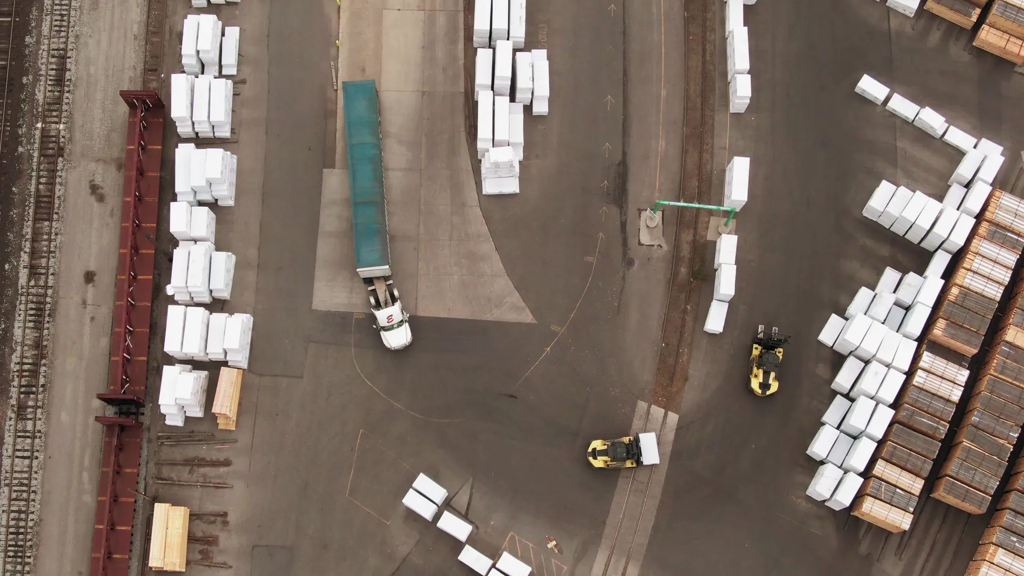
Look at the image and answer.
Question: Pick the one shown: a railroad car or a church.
railroad car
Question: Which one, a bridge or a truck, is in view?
truck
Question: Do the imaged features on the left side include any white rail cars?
No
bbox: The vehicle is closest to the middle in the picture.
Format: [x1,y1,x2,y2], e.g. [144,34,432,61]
[360,276,412,355]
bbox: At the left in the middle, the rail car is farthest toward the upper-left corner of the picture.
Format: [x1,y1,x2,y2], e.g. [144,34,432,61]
[96,95,165,417]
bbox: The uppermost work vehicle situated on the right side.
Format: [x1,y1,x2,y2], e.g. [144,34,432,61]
[750,327,790,399]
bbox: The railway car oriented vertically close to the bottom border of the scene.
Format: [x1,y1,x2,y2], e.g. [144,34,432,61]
[94,415,144,576]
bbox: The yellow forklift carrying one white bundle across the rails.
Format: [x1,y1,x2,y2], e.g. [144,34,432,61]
[586,432,645,468]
